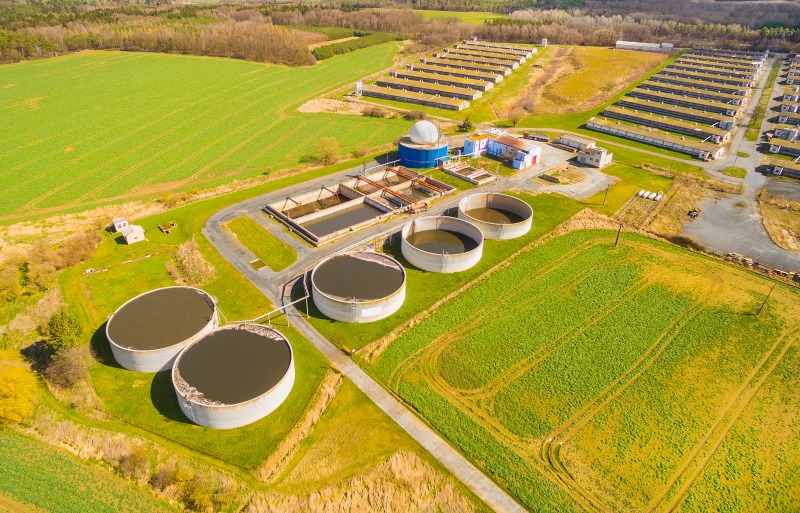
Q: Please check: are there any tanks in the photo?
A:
Yes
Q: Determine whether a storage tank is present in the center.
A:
Yes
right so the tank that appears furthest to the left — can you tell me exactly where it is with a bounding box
[105,286,224,372]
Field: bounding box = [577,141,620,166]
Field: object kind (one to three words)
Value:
building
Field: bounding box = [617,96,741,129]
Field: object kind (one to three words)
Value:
barn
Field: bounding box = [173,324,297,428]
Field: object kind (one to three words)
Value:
storage tank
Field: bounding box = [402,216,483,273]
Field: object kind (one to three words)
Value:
storage tank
